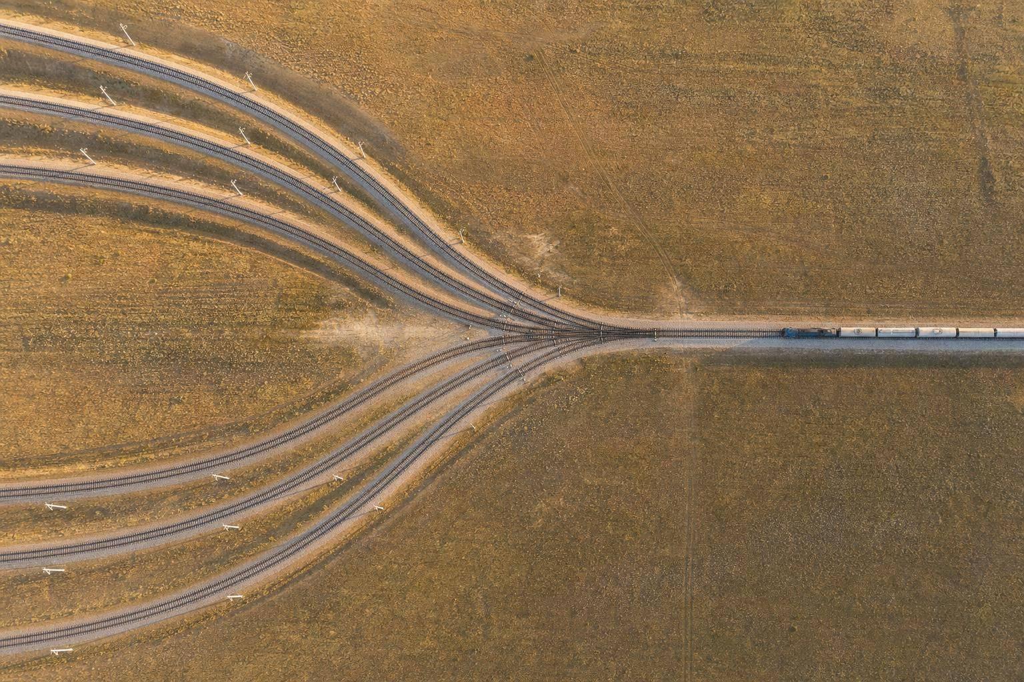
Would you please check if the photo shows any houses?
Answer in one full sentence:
No, the photo shows no house.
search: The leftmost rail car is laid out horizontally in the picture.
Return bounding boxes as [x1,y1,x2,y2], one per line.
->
[779,325,836,338]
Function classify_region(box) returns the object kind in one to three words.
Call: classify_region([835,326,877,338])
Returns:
rail car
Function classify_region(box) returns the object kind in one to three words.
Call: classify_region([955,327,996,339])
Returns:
rail car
